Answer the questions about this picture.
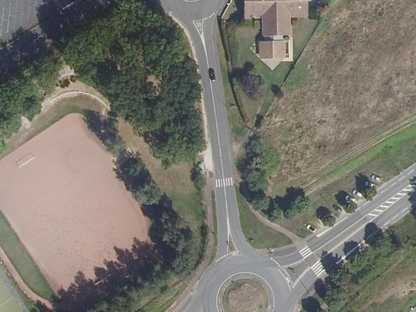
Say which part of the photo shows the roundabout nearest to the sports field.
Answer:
bottom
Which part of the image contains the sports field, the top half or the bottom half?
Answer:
bottom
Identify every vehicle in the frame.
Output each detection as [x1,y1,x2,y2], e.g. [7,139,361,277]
[332,204,342,214]
[364,180,374,188]
[370,174,381,182]
[306,224,316,232]
[352,189,362,198]
[344,194,356,203]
